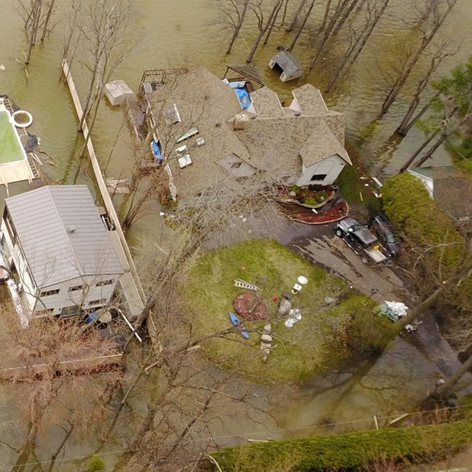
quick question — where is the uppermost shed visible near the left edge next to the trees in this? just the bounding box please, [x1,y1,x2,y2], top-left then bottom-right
[0,183,127,315]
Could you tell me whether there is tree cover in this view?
Yes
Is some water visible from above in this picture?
Yes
